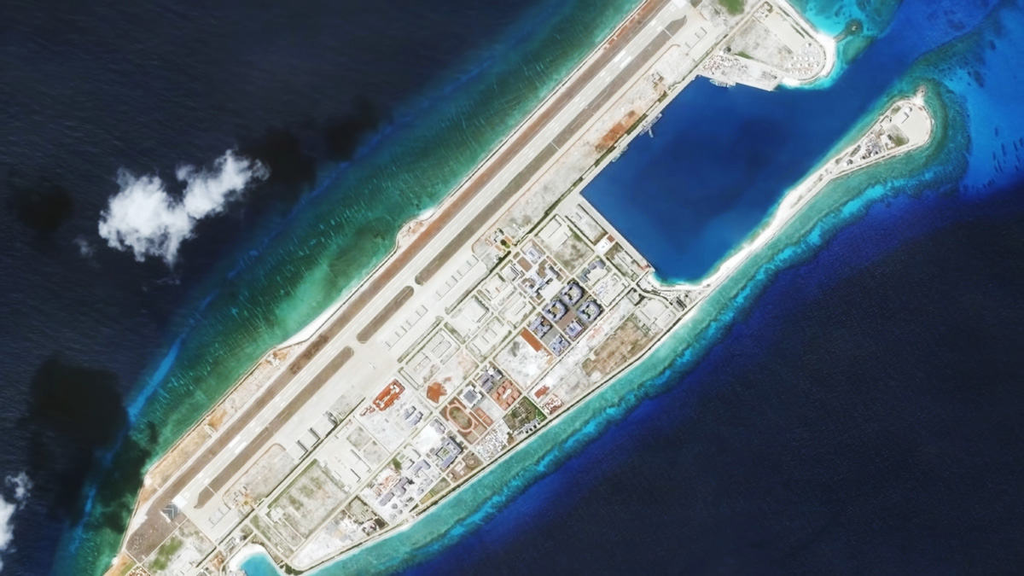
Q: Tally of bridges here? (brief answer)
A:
none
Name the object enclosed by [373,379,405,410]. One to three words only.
building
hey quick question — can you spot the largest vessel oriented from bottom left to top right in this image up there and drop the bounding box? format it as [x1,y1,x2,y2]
[639,115,663,136]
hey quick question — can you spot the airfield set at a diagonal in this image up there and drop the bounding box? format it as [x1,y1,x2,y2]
[142,0,717,560]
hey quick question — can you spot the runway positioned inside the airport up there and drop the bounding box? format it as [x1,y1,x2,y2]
[171,0,690,511]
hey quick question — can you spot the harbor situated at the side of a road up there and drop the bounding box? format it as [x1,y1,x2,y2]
[553,63,781,274]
